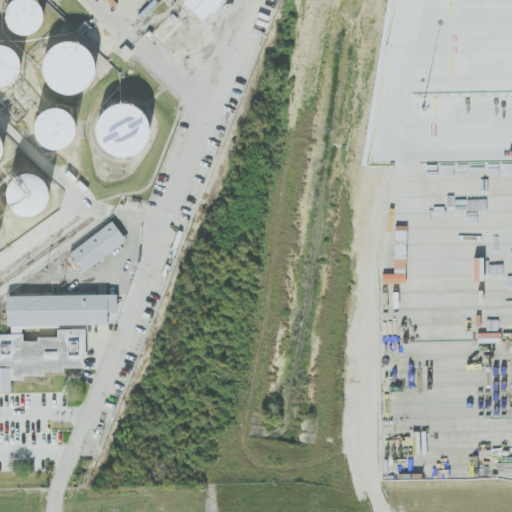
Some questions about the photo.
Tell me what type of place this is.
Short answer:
industrial area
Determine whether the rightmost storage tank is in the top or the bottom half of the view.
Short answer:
top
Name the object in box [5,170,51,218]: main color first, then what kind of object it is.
white storage tank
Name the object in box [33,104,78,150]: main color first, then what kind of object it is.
white storage tank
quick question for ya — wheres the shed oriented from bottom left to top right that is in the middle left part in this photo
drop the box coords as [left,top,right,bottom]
[70,221,126,273]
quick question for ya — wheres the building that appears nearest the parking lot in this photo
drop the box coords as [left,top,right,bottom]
[0,328,86,381]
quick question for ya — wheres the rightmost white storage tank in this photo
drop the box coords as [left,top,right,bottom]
[96,100,152,158]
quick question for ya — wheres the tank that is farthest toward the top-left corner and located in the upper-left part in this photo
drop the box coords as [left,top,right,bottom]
[3,0,46,36]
